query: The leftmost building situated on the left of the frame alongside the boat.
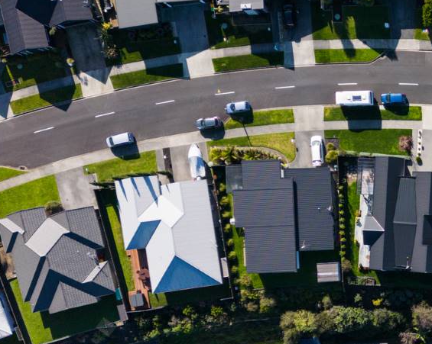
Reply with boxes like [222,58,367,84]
[114,176,224,294]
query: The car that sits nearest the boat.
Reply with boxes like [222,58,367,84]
[195,116,223,132]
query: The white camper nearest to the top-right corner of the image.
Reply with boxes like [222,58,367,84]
[336,90,375,107]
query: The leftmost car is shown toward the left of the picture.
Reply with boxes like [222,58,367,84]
[108,134,135,148]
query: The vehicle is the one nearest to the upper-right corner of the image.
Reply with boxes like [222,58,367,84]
[379,91,407,106]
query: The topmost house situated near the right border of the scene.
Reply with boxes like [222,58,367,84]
[362,157,432,275]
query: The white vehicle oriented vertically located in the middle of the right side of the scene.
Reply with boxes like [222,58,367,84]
[310,136,324,165]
